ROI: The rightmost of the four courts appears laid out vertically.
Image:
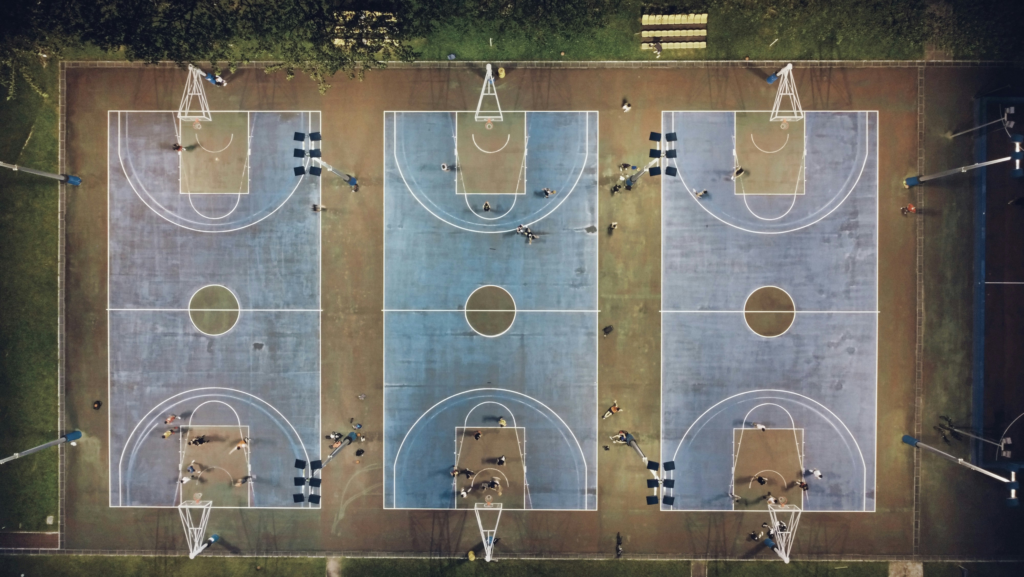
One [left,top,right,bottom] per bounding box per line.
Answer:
[972,97,1024,472]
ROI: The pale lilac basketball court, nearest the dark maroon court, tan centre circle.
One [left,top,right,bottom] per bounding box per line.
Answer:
[659,111,879,512]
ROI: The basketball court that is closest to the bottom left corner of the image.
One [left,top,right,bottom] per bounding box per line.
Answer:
[106,111,323,509]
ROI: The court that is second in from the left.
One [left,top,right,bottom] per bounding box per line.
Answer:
[382,111,600,510]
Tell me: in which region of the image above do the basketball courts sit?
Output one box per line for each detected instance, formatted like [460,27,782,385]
[972,97,1024,472]
[382,111,600,510]
[106,111,323,509]
[659,111,879,512]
